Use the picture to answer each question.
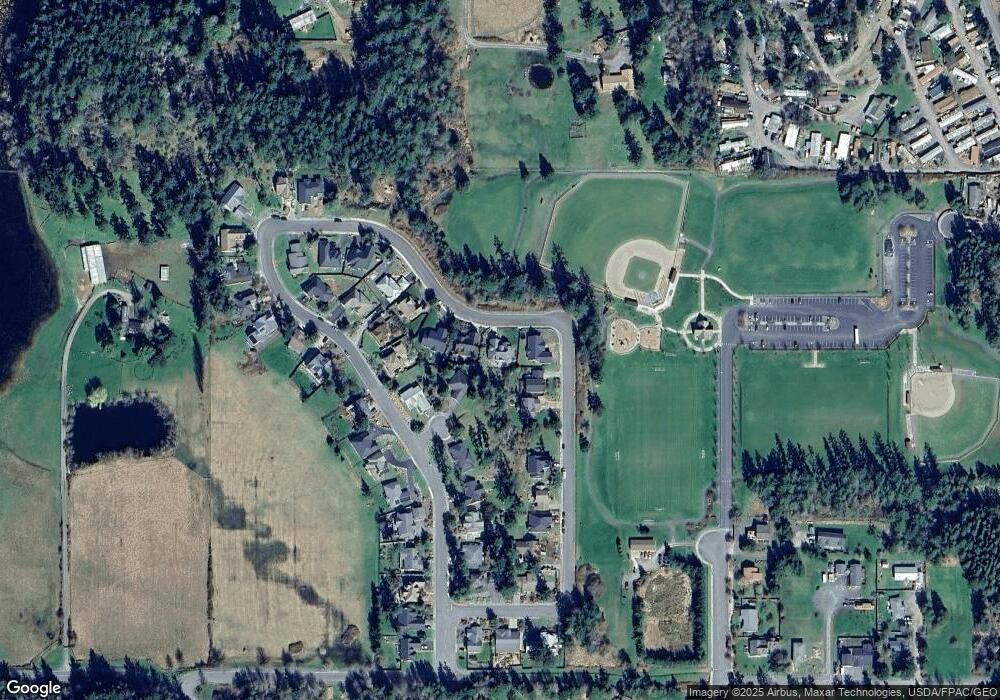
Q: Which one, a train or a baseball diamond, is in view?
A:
baseball diamond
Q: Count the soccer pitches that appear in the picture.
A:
3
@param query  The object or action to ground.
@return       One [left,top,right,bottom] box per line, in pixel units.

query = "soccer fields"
[604,354,713,523]
[741,353,887,446]
[714,185,871,293]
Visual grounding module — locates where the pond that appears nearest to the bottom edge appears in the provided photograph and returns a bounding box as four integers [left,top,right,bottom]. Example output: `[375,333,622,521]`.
[70,397,171,466]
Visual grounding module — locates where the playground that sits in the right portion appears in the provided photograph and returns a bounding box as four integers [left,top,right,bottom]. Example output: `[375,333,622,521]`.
[610,319,660,354]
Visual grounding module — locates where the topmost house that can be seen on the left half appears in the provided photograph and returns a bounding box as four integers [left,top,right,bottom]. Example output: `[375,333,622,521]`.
[289,9,316,30]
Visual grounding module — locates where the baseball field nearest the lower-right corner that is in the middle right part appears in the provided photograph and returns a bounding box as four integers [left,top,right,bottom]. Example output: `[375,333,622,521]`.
[911,369,999,460]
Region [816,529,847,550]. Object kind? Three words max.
building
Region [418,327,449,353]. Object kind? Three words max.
house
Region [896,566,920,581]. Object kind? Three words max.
barn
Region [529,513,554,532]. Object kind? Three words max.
house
